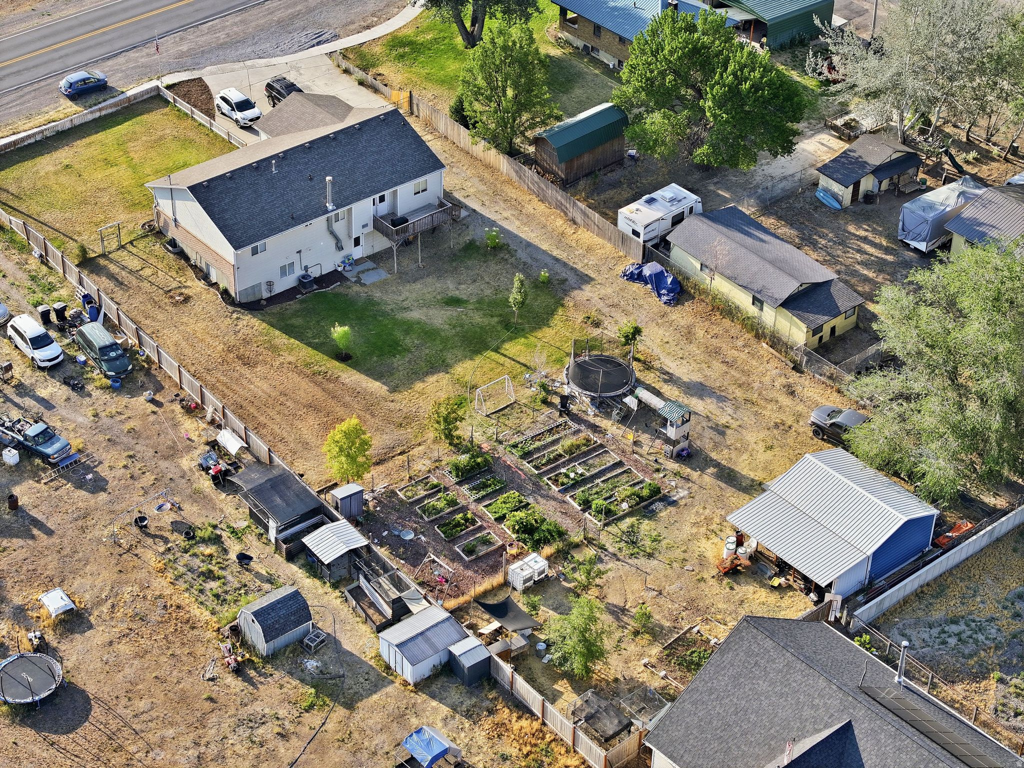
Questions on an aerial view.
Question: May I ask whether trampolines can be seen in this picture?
Yes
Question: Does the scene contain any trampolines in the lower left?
Yes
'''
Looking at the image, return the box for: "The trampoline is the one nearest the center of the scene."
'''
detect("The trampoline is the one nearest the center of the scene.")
[565,337,638,407]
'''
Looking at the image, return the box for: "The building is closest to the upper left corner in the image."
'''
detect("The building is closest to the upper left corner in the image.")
[151,91,466,304]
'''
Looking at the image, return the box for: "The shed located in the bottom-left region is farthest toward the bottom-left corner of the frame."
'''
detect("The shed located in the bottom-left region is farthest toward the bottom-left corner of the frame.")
[238,586,315,656]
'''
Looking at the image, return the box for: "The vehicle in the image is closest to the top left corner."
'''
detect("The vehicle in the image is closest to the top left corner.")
[56,69,111,101]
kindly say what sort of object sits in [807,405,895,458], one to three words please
truck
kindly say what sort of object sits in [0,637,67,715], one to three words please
trampoline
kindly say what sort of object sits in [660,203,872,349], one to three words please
shed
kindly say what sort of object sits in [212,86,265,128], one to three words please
car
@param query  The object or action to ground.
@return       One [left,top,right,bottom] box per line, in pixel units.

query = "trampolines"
[0,637,67,715]
[565,337,638,407]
